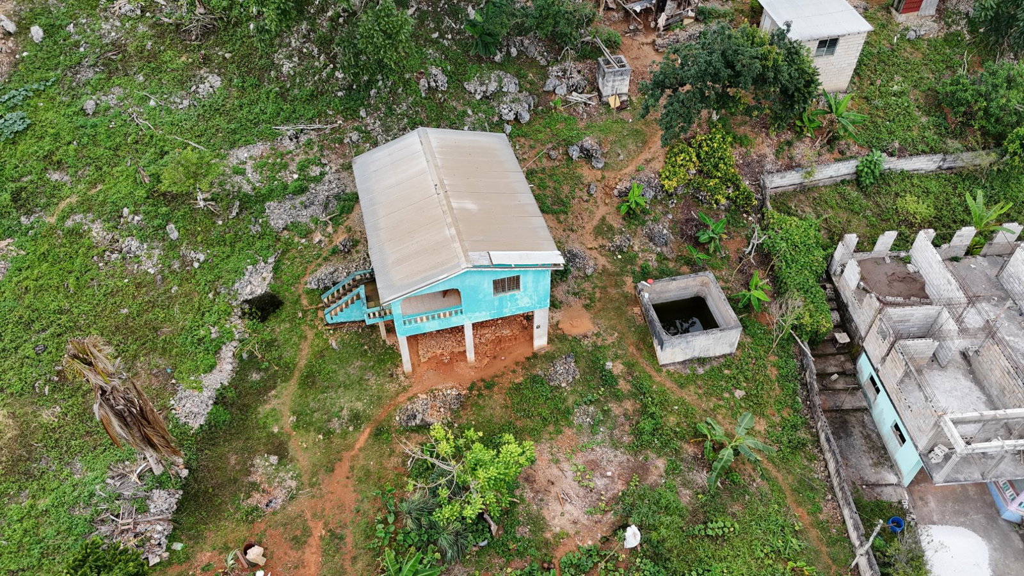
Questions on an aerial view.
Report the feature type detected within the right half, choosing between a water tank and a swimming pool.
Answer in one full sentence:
You can see a water tank within the right half.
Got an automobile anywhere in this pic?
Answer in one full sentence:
No, there is no automobile in the image.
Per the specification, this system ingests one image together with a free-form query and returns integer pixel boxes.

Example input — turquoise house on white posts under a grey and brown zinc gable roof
[321,128,566,373]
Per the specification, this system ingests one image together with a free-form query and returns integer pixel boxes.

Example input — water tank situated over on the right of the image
[635,272,741,369]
